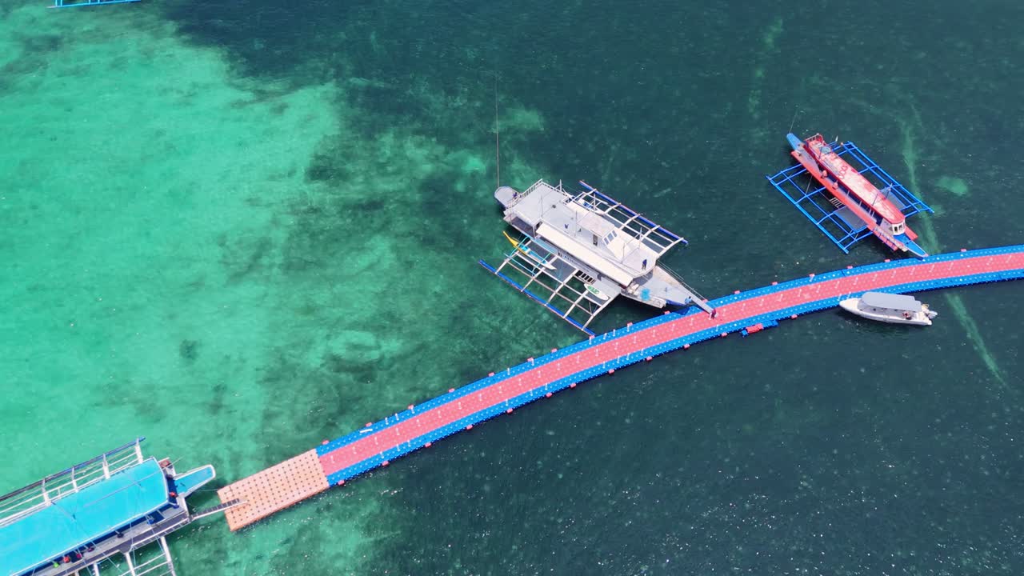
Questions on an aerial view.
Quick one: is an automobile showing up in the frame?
No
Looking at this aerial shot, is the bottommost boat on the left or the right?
left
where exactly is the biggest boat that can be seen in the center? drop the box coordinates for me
[478,175,691,334]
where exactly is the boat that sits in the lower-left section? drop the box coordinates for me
[0,436,218,576]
